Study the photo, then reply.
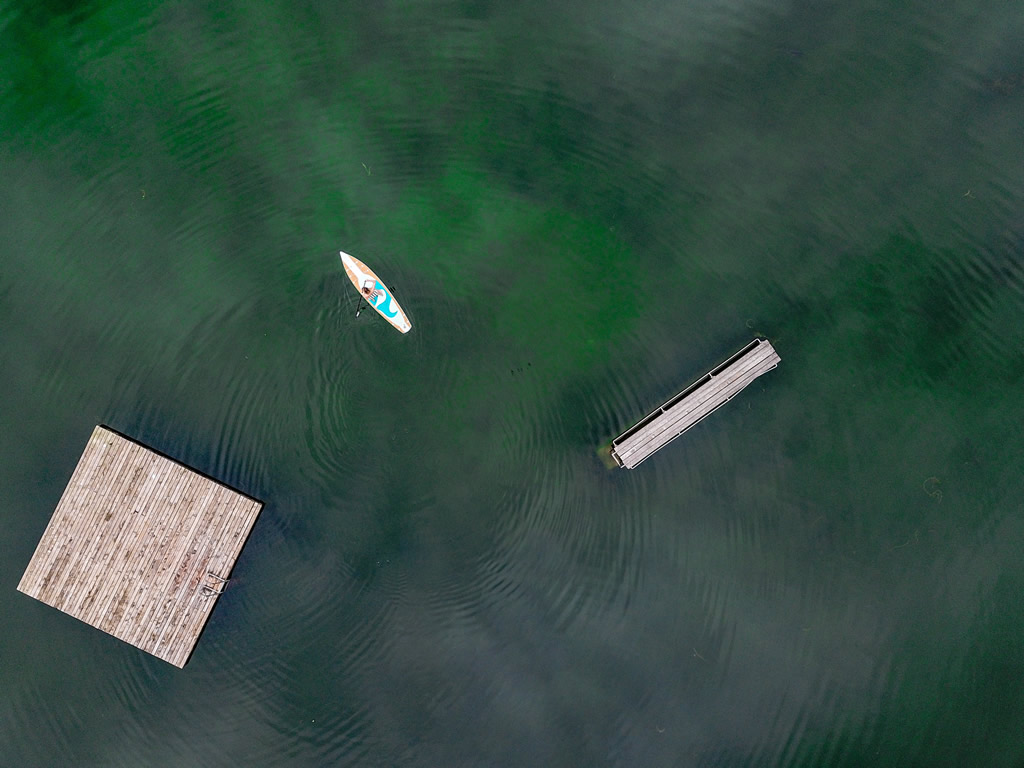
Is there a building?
No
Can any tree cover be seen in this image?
No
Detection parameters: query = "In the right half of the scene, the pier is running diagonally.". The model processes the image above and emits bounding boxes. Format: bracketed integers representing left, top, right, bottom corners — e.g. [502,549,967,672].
[609,338,781,469]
